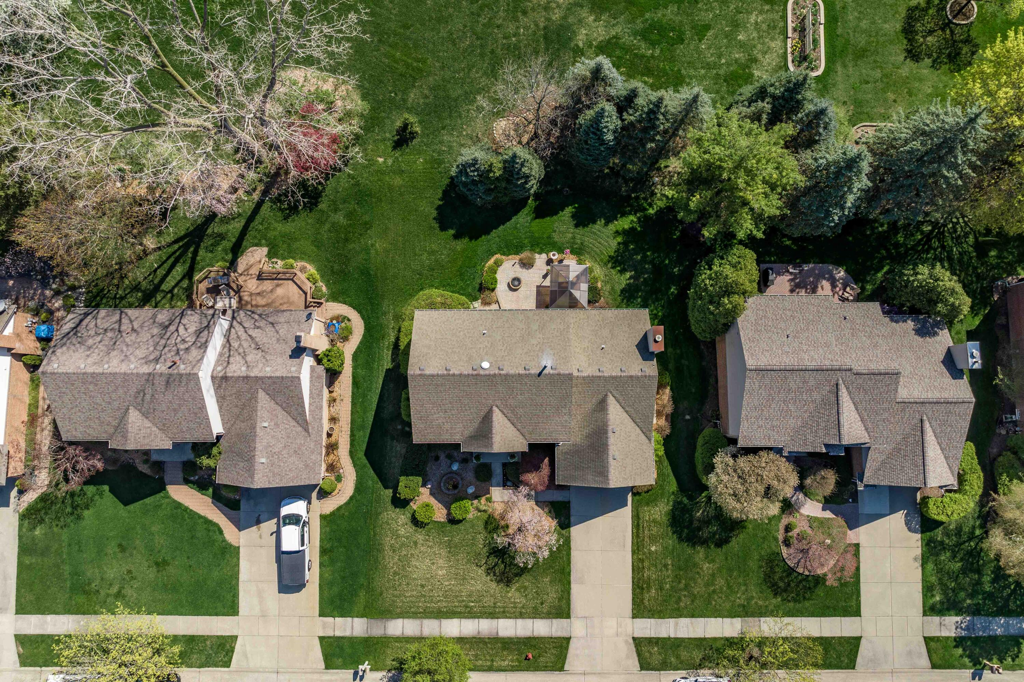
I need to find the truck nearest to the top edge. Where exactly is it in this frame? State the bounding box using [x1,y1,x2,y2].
[272,496,310,588]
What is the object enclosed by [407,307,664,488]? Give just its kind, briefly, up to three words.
house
